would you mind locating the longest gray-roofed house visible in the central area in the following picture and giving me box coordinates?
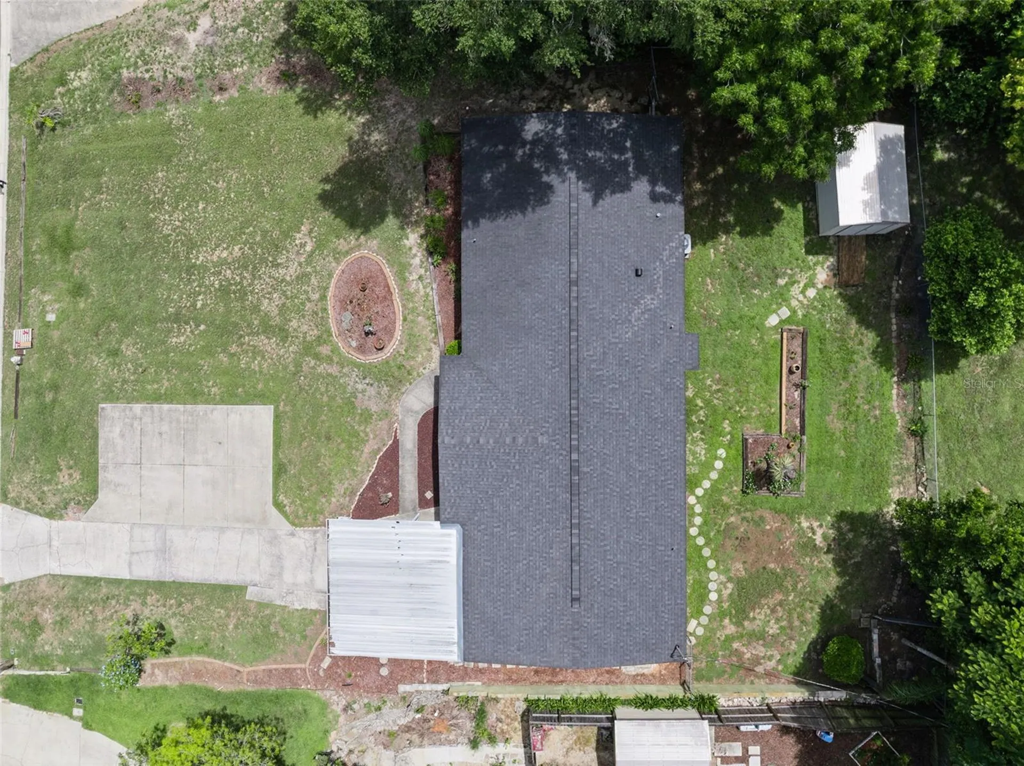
[437,111,699,670]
